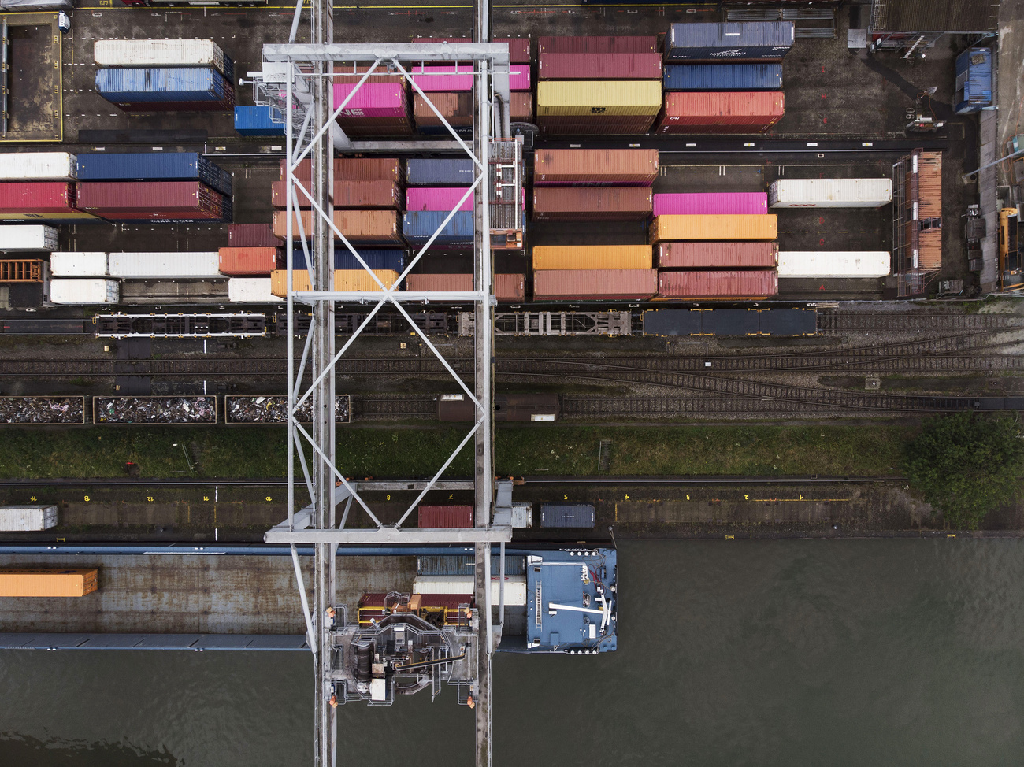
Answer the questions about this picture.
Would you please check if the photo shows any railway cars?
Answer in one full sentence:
Yes, this view includes a railway car.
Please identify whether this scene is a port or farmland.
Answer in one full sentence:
The picture captures a port.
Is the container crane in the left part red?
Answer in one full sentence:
No, the container crane in the left part is gray.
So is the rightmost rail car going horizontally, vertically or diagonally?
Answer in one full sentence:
The rightmost rail car runs horizontally in the image.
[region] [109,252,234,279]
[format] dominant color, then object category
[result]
white shipping container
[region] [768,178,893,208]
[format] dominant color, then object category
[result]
white shipping container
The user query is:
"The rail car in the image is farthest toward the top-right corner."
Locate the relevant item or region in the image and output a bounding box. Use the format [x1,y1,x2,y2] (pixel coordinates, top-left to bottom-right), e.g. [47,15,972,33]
[637,308,822,335]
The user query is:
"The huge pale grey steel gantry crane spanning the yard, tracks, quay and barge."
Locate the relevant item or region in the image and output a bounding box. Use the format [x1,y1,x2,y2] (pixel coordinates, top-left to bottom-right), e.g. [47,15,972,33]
[238,0,542,767]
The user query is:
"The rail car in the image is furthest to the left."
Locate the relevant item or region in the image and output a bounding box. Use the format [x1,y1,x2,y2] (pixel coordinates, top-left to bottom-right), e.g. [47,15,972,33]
[0,394,93,426]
